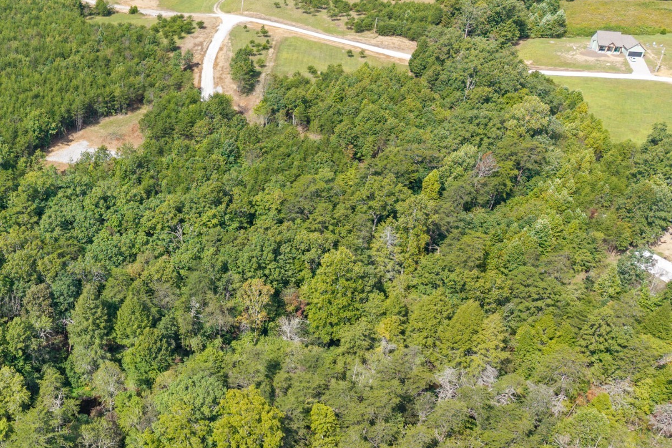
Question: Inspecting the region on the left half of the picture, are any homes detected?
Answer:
No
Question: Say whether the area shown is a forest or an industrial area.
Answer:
forest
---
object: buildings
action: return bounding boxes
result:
[592,31,646,59]
[632,251,672,285]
